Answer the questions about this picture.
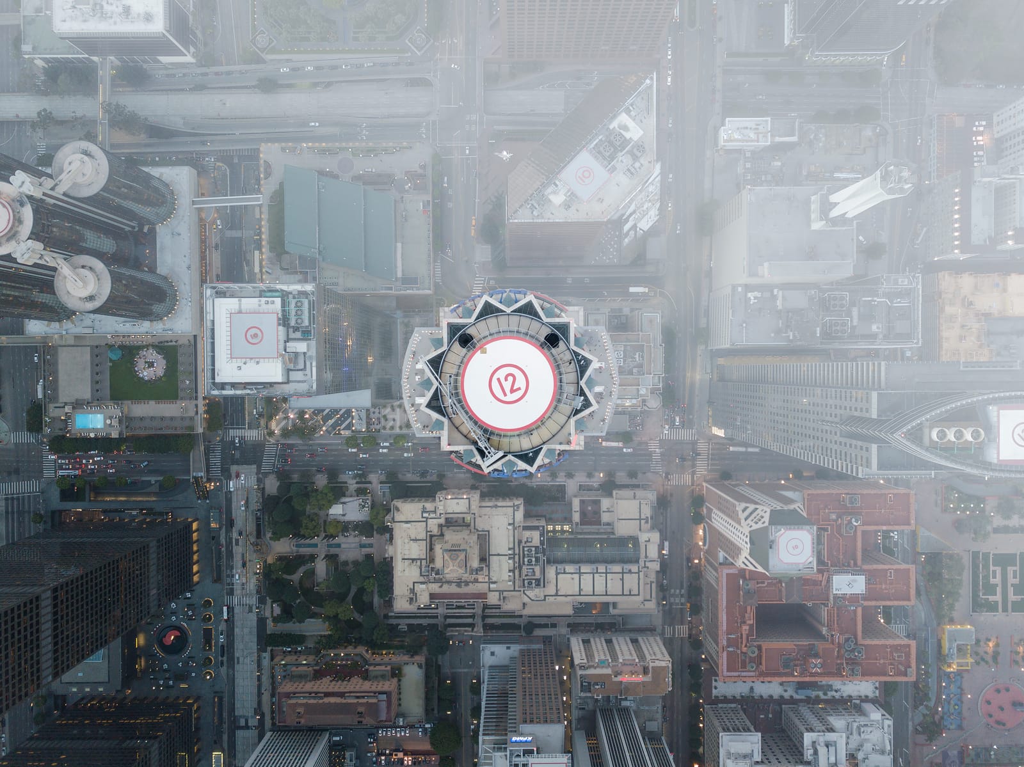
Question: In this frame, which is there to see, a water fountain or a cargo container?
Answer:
water fountain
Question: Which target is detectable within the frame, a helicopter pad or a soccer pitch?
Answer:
helicopter pad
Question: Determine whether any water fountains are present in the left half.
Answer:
Yes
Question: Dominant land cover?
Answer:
buildings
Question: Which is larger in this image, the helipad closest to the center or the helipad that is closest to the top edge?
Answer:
the helipad closest to the center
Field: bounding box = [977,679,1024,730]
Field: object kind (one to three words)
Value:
fountain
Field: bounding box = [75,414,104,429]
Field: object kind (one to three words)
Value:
swimming pool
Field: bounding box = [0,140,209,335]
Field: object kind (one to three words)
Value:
building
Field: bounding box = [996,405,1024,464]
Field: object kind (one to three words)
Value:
helipad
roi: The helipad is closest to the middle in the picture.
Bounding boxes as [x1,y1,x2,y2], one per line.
[461,336,557,432]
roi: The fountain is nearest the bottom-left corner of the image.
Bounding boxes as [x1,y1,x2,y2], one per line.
[154,620,191,656]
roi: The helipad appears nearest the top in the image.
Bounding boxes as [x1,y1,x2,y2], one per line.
[558,149,611,204]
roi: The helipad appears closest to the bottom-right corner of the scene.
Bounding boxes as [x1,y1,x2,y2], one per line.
[833,574,865,596]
